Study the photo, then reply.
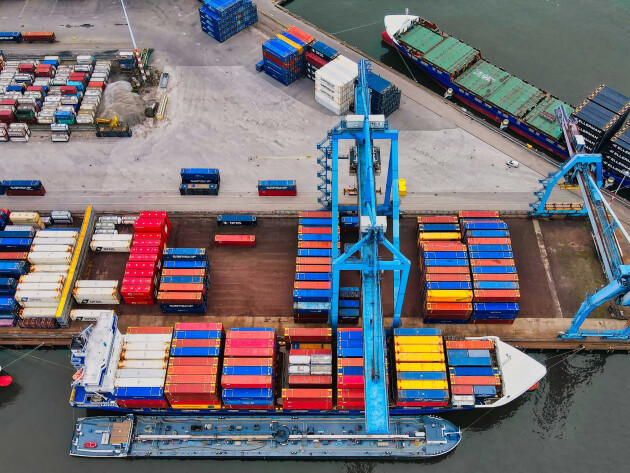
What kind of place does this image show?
port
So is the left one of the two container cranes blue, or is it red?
blue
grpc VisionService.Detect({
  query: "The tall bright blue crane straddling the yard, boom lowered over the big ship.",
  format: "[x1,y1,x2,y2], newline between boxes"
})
[315,60,411,433]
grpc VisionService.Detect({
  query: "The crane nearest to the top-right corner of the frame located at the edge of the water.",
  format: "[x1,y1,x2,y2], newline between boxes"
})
[531,99,630,334]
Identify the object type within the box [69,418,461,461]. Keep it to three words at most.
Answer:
ship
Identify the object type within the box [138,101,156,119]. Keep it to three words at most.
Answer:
vehicle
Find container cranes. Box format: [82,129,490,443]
[531,99,630,334]
[315,60,411,433]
